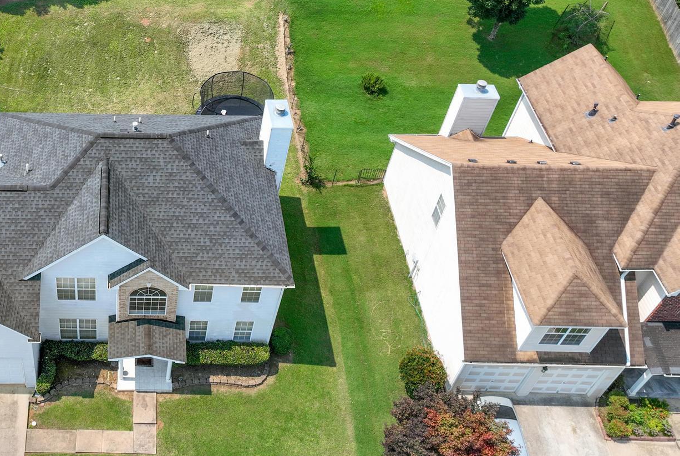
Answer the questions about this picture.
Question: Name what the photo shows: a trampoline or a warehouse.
trampoline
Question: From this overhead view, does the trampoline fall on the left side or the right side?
left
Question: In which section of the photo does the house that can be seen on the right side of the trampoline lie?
right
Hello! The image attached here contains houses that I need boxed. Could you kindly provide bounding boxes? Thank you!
[0,99,297,392]
[383,44,680,416]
